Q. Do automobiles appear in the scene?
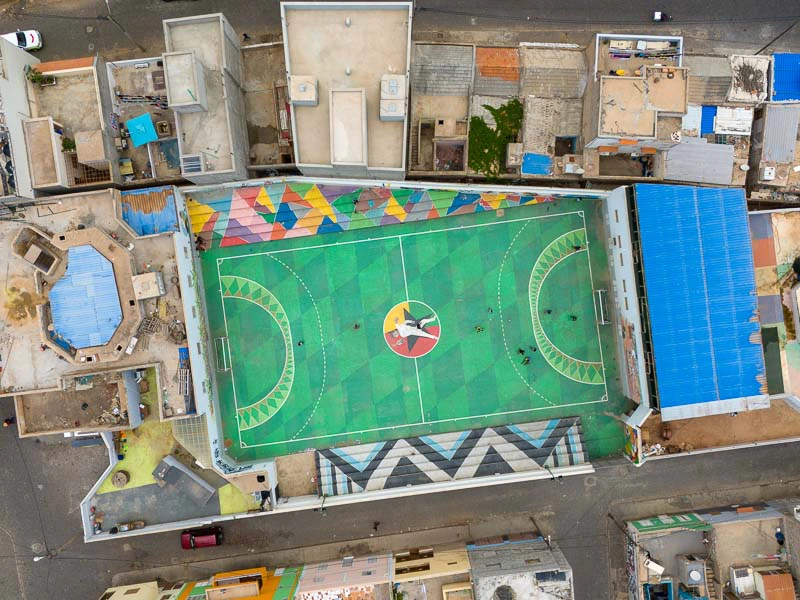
Yes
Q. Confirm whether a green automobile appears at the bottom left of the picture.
No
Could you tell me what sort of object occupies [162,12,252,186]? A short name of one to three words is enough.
house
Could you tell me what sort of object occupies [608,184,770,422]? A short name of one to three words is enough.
building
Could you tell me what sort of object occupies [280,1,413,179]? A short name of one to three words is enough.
house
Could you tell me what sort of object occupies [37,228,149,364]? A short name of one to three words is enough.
building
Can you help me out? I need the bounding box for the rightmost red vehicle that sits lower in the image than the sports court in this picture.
[178,529,221,554]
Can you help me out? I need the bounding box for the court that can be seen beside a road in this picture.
[200,197,632,467]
